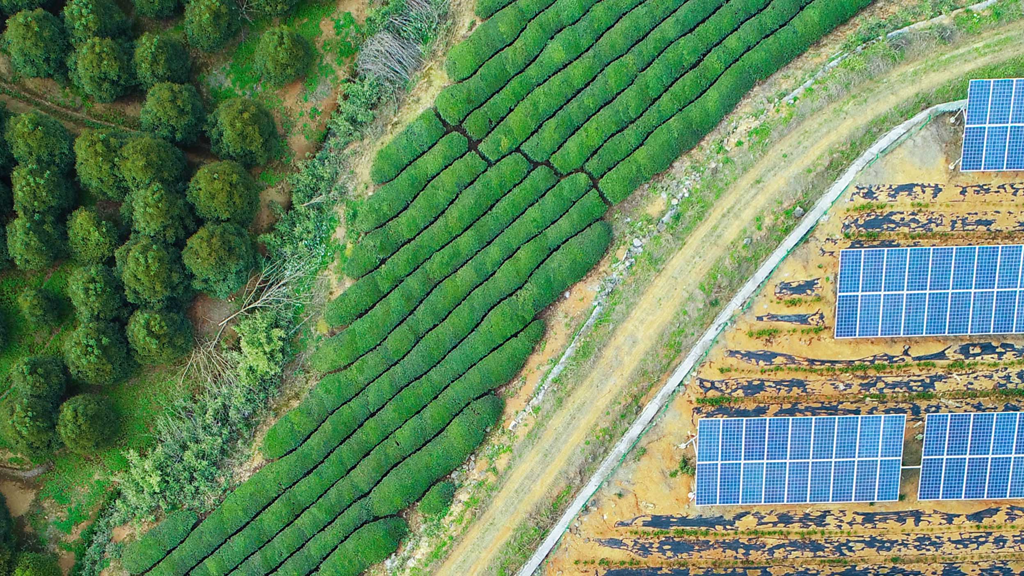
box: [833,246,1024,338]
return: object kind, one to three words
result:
solar array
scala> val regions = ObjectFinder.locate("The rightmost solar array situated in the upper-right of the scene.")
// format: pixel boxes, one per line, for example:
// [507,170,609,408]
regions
[948,79,1024,171]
